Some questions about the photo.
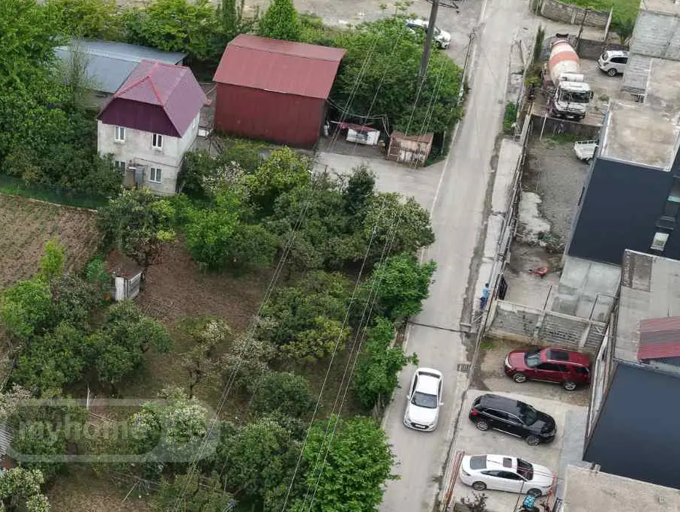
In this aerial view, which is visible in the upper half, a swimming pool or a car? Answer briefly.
car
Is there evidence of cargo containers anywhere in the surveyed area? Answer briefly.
No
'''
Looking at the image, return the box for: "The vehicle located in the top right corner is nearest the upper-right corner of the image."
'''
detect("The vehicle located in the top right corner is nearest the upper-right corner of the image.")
[599,47,631,75]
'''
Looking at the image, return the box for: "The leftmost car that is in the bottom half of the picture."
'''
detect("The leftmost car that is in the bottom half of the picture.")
[405,366,447,429]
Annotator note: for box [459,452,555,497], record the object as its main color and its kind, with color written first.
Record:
white car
